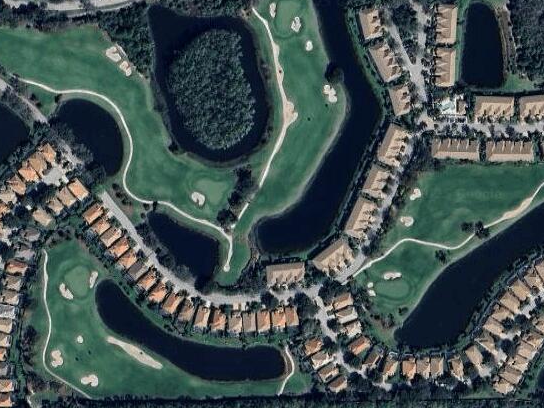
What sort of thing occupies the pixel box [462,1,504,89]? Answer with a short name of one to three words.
pond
